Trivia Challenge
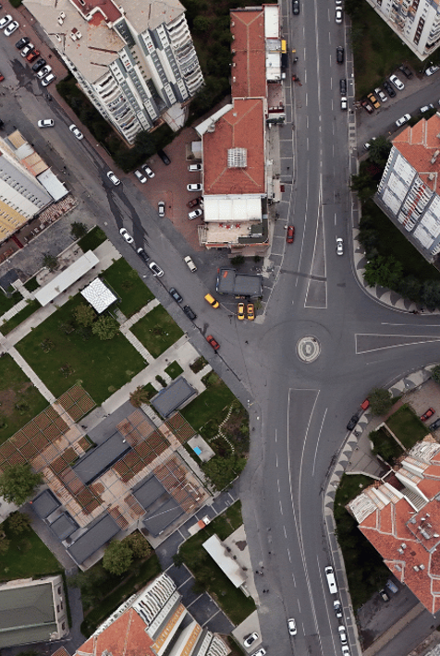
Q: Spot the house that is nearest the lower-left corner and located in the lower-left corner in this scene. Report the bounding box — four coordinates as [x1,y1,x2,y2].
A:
[0,576,67,647]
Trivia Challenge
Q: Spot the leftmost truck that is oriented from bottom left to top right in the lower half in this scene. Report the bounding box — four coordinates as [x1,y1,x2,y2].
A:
[185,514,211,537]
